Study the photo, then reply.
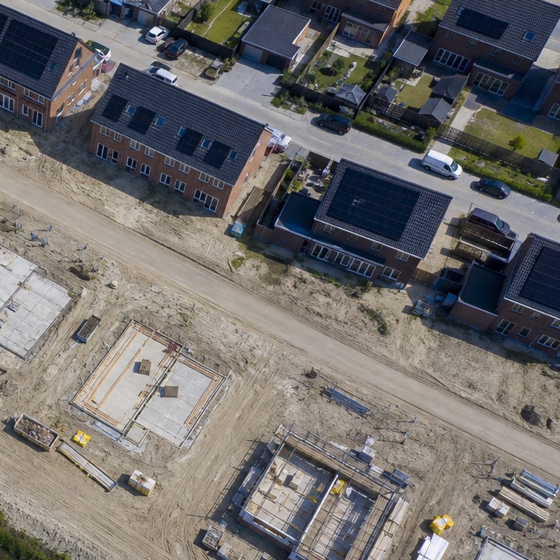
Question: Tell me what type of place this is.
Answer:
residential area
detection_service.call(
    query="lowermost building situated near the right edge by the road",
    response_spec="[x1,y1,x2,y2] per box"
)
[447,231,560,353]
